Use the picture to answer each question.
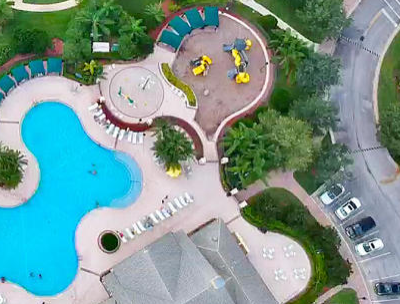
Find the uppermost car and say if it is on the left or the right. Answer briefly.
right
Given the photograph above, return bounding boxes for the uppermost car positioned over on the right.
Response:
[320,181,348,205]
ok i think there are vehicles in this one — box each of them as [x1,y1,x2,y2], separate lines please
[336,195,363,219]
[347,214,381,241]
[377,281,400,295]
[320,181,348,205]
[357,237,388,258]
